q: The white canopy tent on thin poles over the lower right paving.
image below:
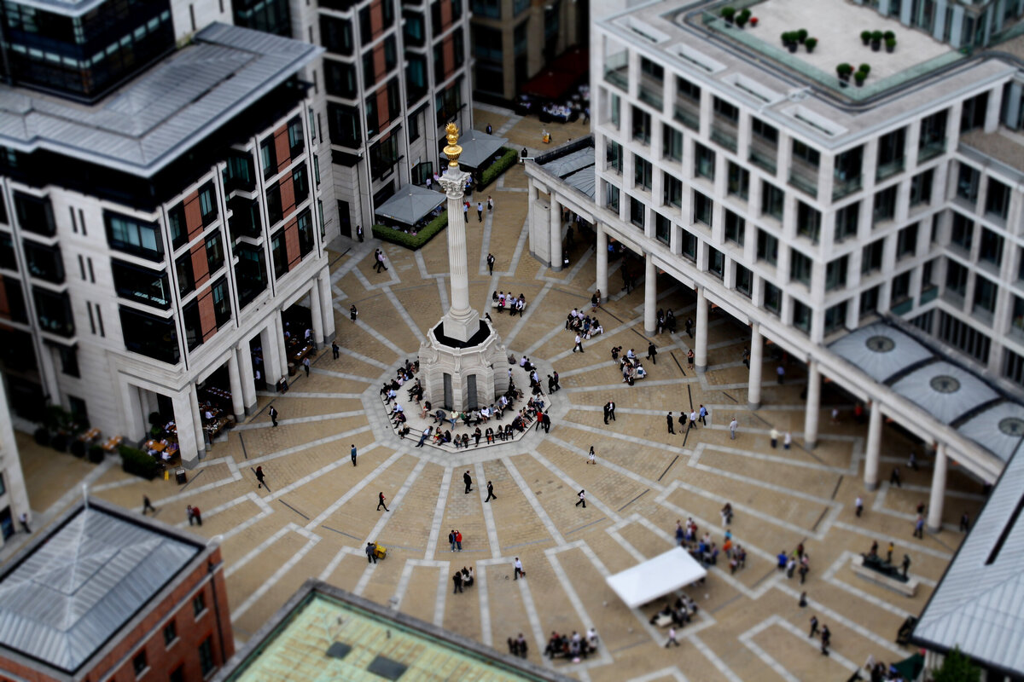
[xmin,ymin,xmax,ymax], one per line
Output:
[604,547,707,640]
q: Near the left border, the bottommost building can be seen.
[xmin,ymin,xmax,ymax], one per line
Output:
[0,483,227,682]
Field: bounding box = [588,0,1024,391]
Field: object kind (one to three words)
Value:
building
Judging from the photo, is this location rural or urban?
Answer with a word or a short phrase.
urban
